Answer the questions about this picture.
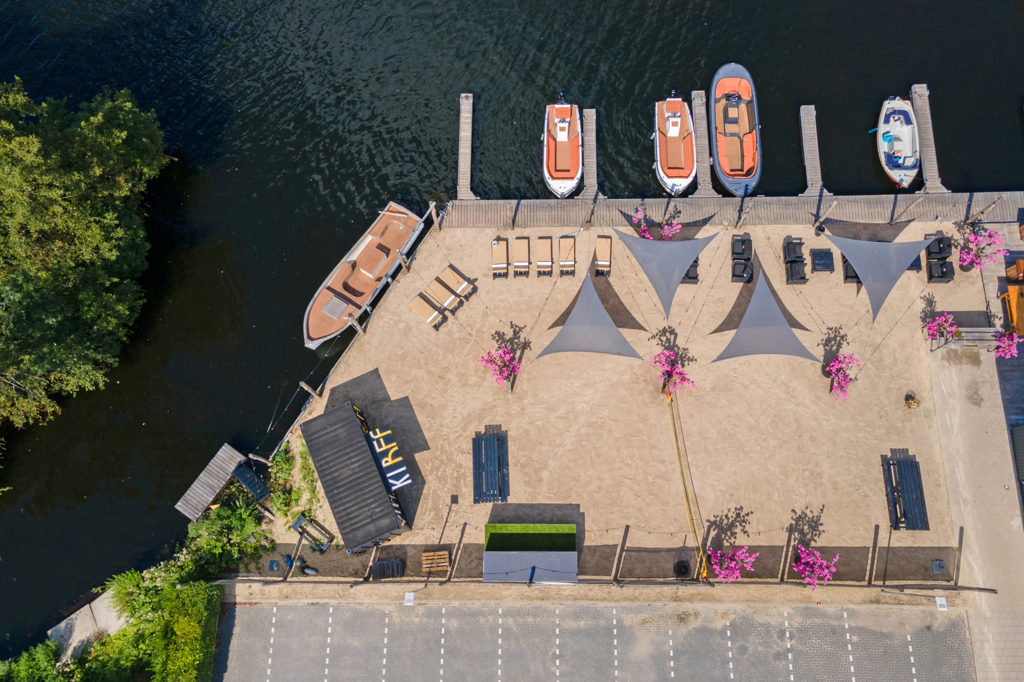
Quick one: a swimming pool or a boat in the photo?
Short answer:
boat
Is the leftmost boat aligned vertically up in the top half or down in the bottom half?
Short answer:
top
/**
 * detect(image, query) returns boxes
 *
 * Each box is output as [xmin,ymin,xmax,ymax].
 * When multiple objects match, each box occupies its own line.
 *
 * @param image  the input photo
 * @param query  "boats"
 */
[541,96,584,199]
[302,201,423,349]
[652,91,696,196]
[707,62,762,197]
[868,95,919,190]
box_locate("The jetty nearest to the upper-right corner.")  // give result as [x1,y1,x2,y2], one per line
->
[905,83,952,196]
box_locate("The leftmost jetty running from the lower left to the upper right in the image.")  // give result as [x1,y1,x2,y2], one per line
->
[176,444,248,522]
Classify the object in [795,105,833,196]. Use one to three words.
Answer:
pier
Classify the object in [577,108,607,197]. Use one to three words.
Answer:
pier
